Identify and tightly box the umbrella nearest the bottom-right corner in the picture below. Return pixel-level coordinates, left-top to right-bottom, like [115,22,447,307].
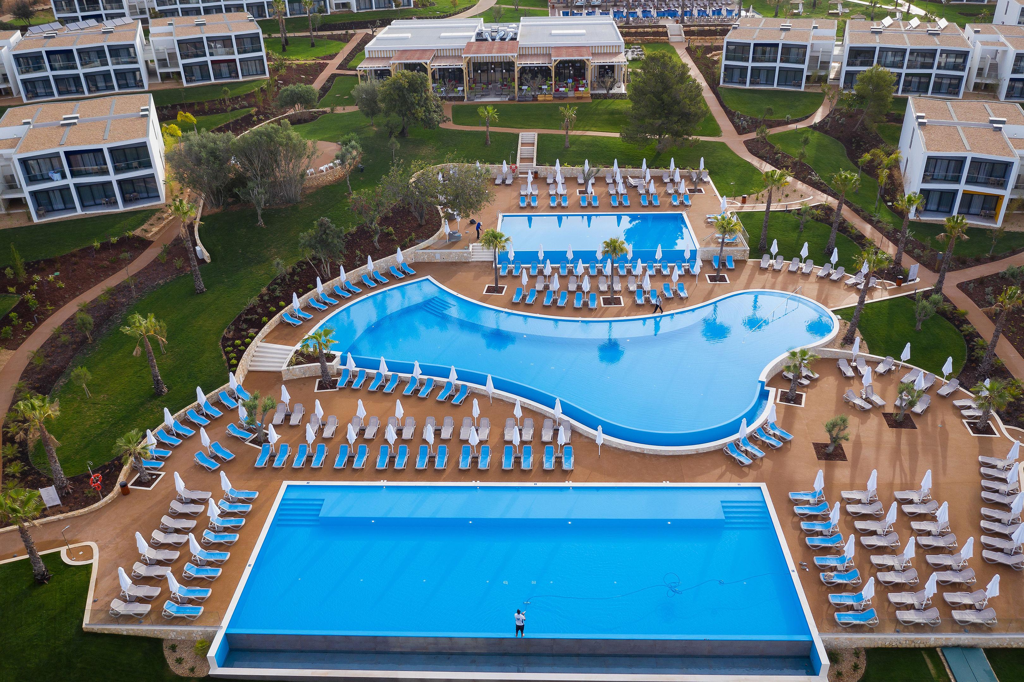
[980,574,997,604]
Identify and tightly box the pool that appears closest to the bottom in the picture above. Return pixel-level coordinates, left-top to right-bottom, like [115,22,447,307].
[224,485,815,643]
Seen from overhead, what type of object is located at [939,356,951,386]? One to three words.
umbrella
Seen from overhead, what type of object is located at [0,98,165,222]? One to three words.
building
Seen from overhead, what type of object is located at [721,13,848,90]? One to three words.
building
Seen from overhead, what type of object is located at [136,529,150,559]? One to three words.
umbrella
